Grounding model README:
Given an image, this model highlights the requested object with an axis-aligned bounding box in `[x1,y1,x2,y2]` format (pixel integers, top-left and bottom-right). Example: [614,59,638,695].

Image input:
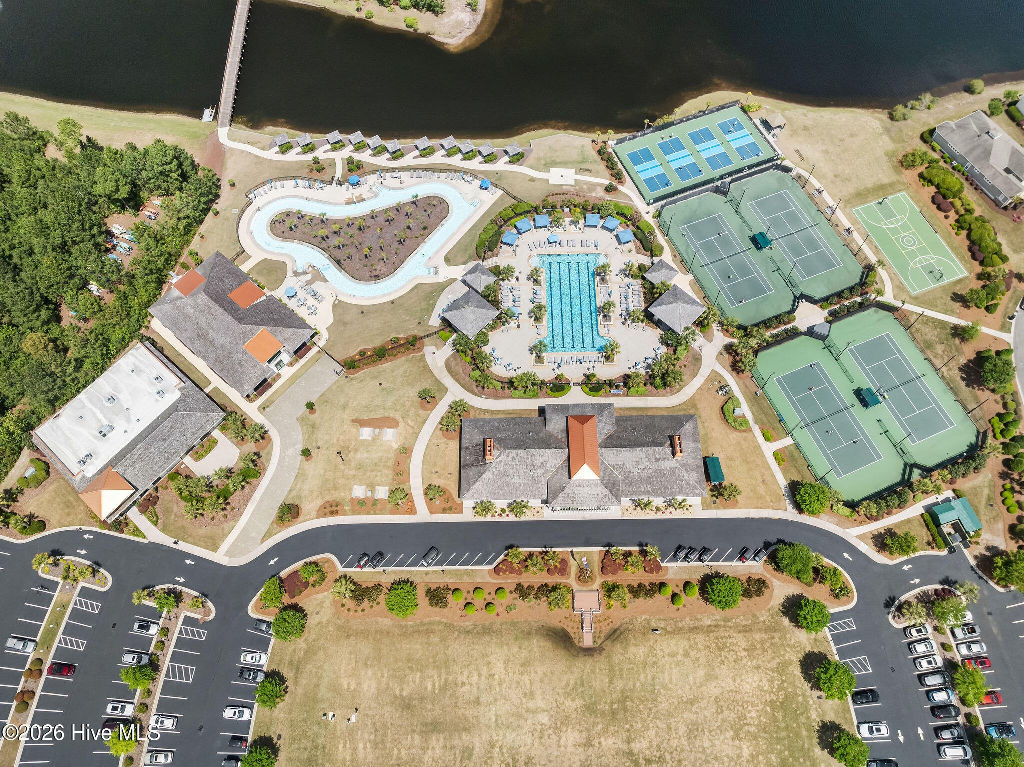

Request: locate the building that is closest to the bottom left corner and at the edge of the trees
[30,340,226,523]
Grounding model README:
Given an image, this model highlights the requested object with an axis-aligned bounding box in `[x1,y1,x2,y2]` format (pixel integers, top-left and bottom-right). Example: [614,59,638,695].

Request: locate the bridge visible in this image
[216,0,253,130]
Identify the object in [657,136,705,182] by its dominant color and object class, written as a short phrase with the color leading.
blue sports court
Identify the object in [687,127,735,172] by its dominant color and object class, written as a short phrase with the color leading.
blue sports court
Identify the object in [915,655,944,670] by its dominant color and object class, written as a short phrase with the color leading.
white car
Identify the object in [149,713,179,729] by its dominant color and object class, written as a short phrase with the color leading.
white car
